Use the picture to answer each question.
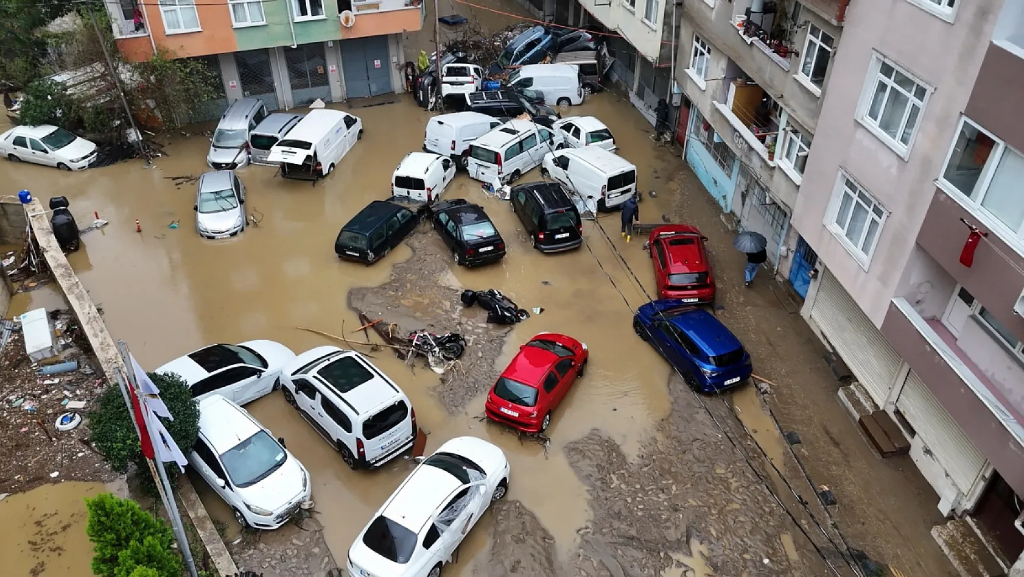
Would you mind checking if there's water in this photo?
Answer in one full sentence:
Yes, there's water in this view.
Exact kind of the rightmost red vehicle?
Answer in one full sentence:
Specifically, the rightmost red vehicle is an automobile.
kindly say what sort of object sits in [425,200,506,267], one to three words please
car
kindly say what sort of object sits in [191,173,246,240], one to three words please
car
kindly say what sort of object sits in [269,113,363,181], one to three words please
van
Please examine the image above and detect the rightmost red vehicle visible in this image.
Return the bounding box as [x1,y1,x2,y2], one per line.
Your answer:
[644,226,715,306]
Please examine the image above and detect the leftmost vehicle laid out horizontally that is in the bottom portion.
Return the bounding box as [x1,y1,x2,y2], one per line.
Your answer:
[132,330,294,401]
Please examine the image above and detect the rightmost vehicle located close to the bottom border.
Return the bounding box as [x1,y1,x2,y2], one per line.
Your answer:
[345,436,511,577]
